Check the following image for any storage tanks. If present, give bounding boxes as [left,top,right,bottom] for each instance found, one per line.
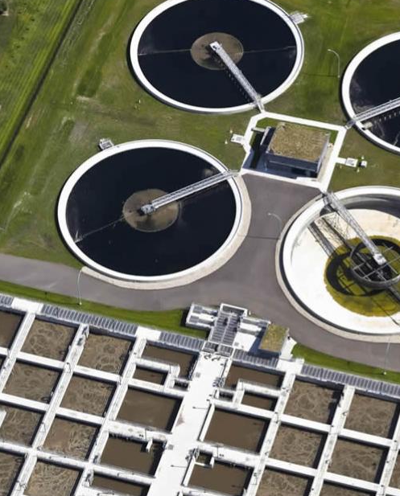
[282,185,400,336]
[58,136,244,284]
[130,0,308,115]
[341,32,400,155]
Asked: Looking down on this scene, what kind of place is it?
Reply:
industrial area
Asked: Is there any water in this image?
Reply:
Yes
